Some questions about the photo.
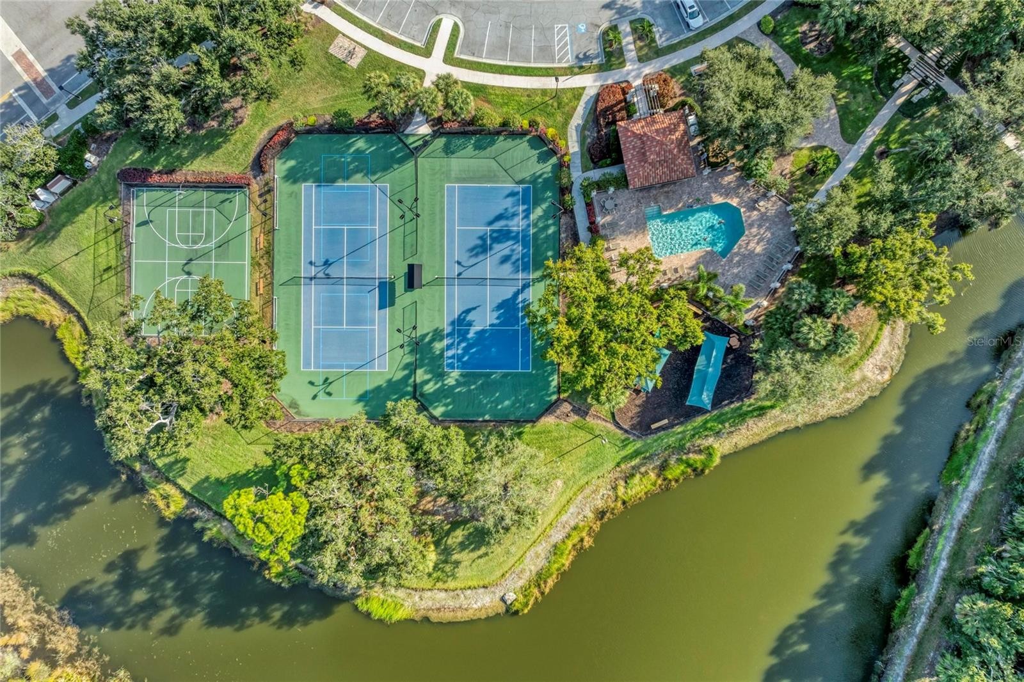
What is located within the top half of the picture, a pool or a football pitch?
pool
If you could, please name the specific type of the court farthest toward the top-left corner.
basketball court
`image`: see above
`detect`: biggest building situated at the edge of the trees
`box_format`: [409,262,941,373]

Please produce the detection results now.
[616,109,698,190]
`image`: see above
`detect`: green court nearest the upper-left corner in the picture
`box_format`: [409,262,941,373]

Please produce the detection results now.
[129,187,250,335]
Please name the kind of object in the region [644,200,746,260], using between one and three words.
swimming pool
